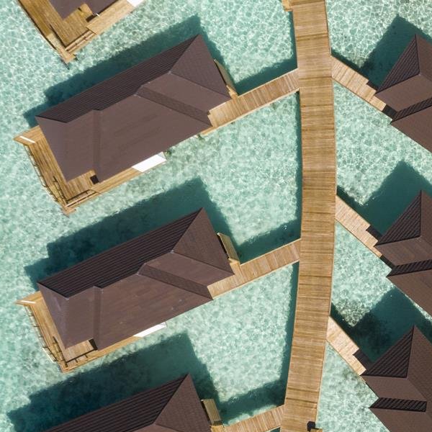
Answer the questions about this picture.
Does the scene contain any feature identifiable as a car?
No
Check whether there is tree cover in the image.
No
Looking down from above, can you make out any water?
Yes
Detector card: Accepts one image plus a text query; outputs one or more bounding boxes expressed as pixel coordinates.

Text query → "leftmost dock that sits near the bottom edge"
[225,404,282,432]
